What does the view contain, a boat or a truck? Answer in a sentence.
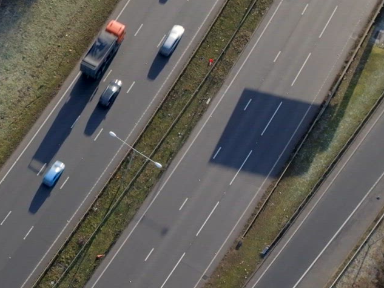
I can see a truck in this picture.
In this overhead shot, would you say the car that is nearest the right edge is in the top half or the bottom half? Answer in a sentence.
The top half of the photo is where the car that is nearest the right edge is.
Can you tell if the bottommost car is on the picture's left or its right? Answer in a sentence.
You can find the bottommost car on the left side of the picture.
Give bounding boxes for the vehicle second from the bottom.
[99,79,123,109]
